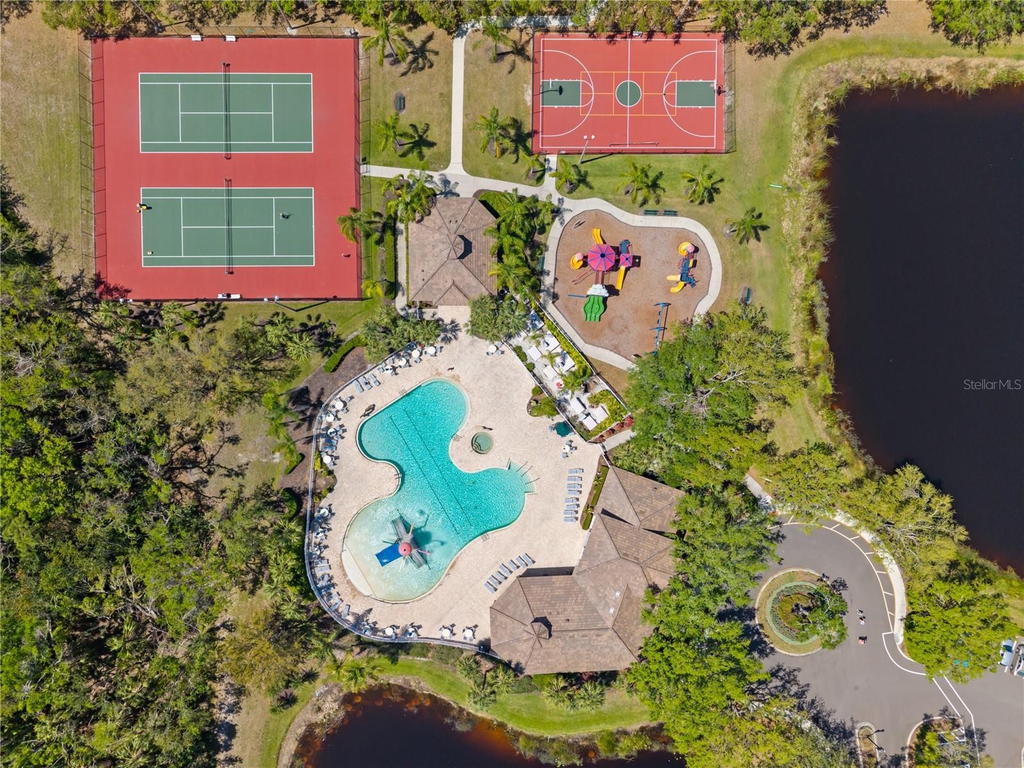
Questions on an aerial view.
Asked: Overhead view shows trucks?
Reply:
No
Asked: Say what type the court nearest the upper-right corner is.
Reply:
basketball court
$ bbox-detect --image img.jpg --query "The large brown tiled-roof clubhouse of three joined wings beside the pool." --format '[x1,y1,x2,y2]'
[490,466,686,675]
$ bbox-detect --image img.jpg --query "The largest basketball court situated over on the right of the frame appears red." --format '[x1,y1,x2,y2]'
[532,32,725,154]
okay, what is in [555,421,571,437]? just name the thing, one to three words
umbrella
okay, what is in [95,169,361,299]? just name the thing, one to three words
tennis court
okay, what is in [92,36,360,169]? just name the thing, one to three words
tennis court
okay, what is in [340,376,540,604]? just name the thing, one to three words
swimming pool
